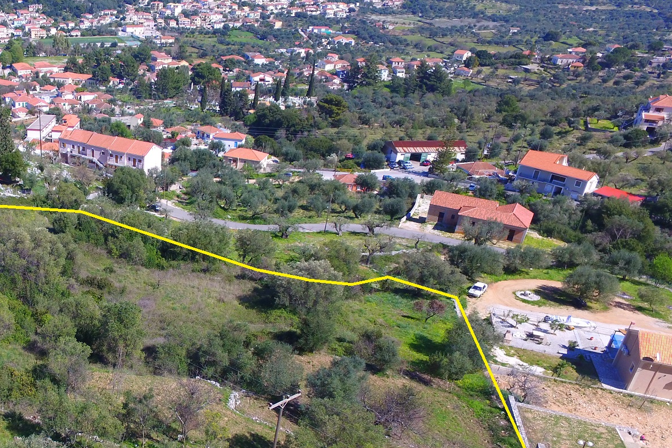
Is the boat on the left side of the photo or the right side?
right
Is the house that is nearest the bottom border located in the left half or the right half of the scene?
right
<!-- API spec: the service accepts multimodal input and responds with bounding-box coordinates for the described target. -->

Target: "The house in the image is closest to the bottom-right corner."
[622,320,672,397]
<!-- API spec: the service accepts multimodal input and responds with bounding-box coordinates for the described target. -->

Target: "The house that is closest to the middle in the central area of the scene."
[338,165,382,192]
